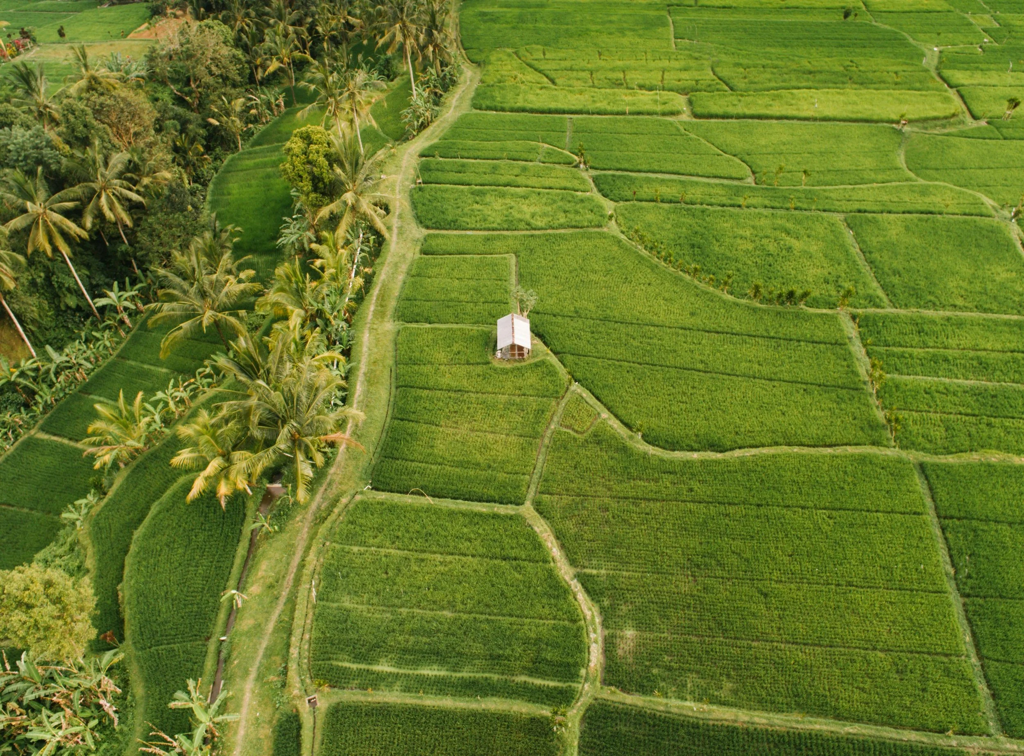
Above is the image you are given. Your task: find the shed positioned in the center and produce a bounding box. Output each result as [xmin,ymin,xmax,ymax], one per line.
[496,308,532,357]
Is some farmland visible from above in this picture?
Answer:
Yes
